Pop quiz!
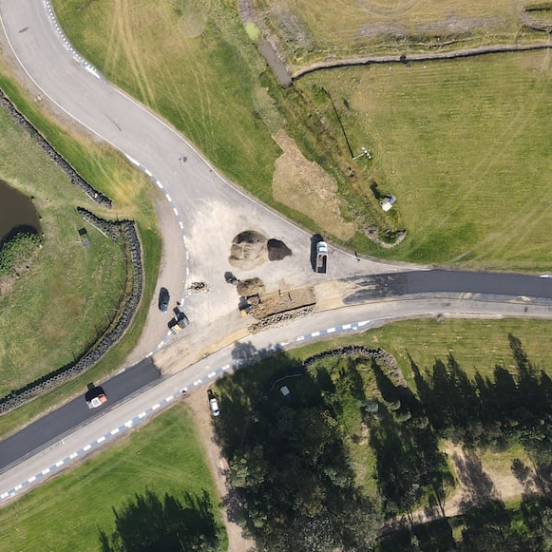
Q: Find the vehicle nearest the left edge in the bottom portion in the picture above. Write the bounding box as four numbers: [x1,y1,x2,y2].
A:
[87,392,107,406]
